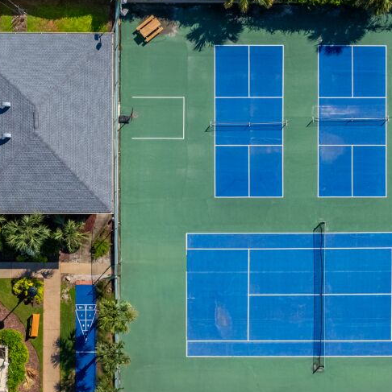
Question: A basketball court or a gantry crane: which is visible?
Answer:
basketball court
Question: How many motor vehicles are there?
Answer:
zero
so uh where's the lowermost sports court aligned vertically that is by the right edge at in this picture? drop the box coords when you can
[318,45,386,198]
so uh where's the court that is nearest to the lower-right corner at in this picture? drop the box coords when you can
[186,232,392,357]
